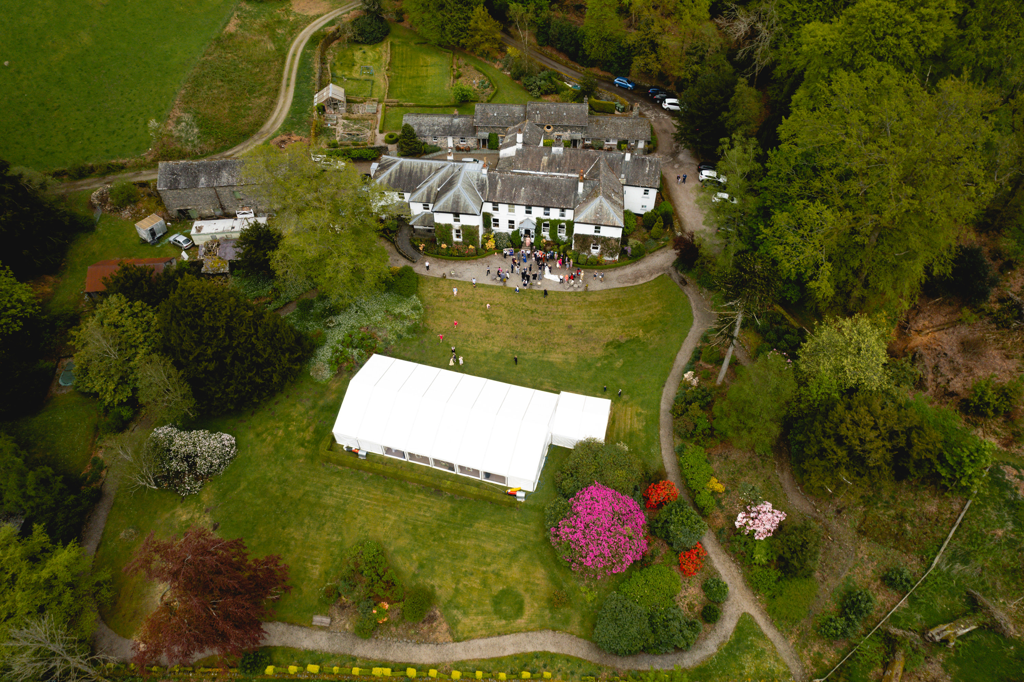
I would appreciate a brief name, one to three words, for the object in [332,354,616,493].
tent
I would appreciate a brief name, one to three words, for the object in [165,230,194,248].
car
